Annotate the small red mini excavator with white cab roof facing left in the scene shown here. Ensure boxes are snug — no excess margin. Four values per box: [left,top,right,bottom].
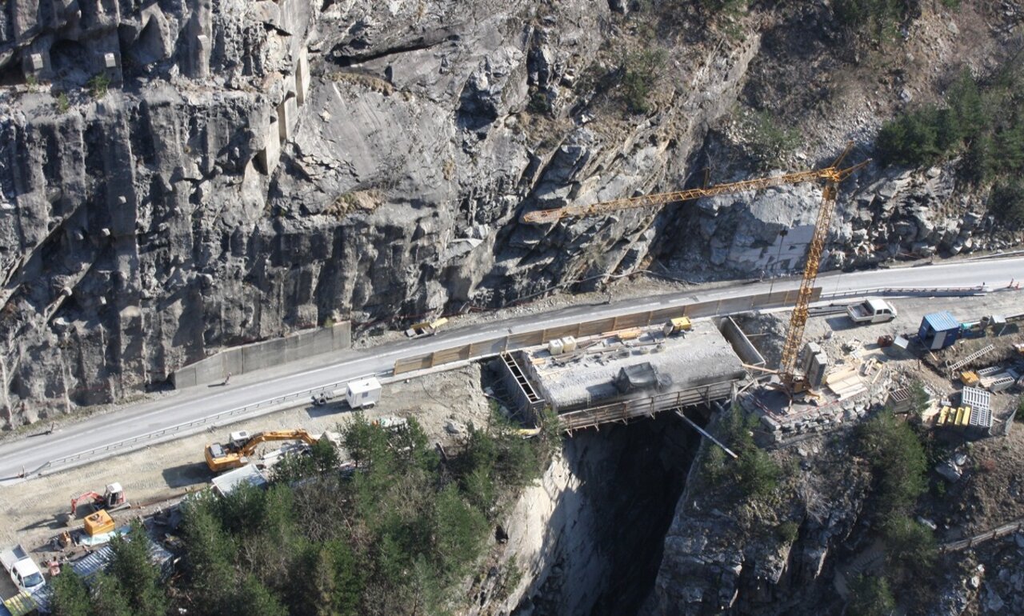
[64,488,126,526]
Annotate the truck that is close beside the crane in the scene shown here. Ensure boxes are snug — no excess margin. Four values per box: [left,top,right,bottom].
[847,297,900,324]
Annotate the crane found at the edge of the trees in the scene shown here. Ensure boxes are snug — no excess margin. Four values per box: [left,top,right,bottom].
[523,143,873,413]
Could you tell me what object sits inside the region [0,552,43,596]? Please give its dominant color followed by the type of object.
white truck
